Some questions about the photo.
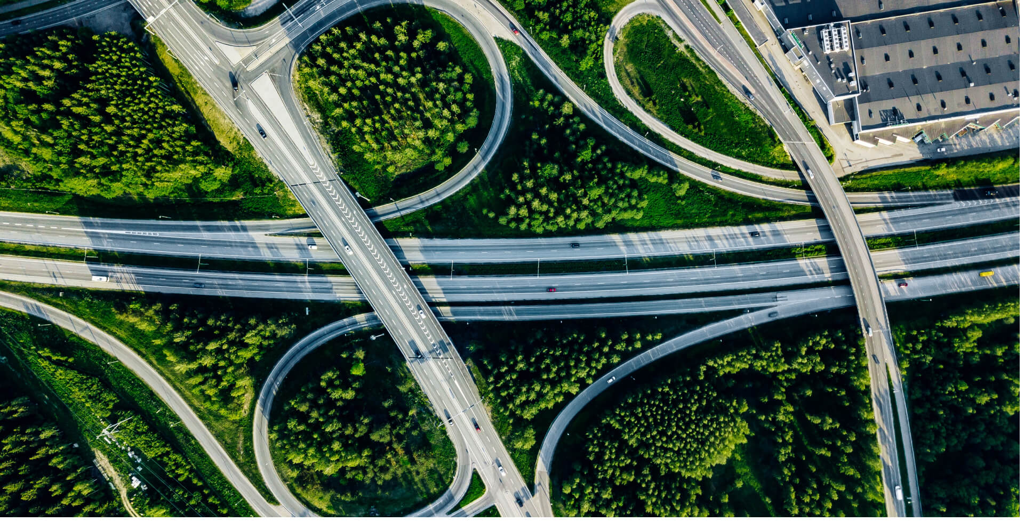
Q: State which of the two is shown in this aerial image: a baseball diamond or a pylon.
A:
pylon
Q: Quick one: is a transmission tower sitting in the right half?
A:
No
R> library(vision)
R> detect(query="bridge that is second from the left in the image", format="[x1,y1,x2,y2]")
[286,176,462,362]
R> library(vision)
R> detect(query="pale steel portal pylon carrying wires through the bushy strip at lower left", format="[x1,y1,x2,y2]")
[94,427,141,457]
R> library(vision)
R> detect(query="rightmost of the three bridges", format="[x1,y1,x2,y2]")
[785,140,891,332]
